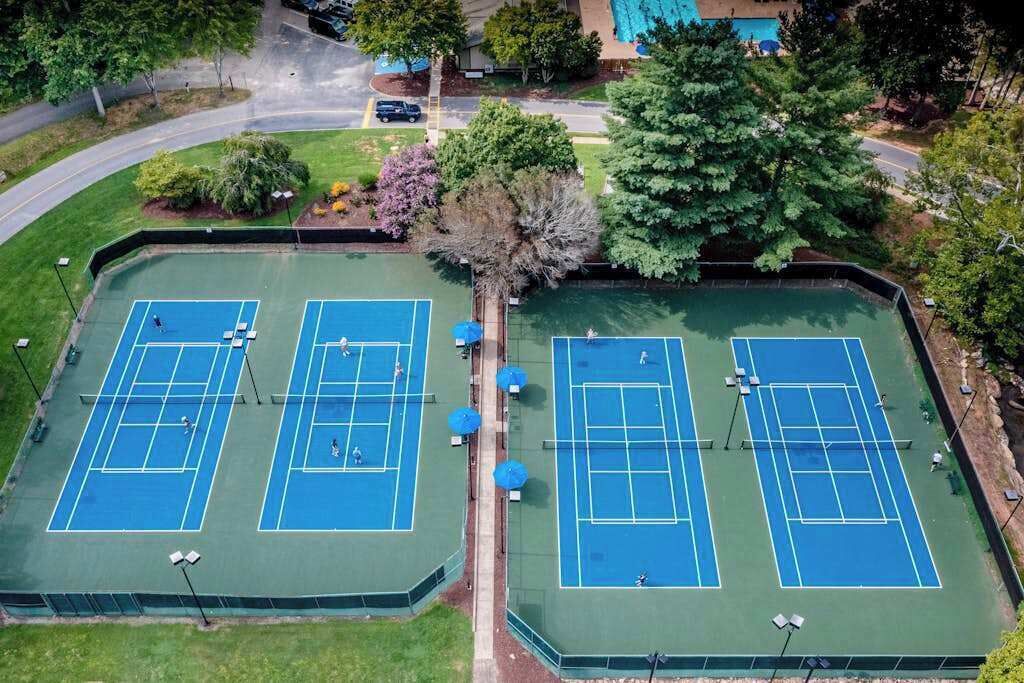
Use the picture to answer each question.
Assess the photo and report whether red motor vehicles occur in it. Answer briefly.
No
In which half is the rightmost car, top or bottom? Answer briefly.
top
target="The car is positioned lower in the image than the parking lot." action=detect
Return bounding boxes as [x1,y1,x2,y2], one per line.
[375,99,420,123]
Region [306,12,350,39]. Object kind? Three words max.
vehicle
